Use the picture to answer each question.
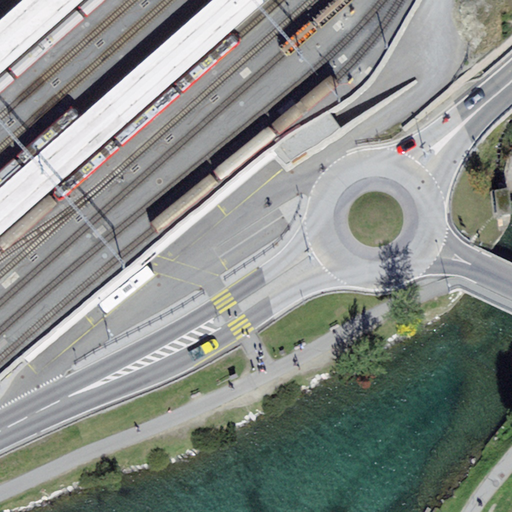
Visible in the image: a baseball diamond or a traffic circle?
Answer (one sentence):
The one in the frame is a traffic circle.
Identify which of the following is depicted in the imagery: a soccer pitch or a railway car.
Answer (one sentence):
Visible in the photo is a railway car.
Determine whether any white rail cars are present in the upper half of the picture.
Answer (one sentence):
Yes, in the upper half of the picture there is a white rail car.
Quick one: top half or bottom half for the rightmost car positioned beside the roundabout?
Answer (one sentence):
It is in the top half that the rightmost car positioned beside the roundabout appears.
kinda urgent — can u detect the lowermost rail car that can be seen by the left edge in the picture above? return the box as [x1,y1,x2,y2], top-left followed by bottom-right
[0,192,61,248]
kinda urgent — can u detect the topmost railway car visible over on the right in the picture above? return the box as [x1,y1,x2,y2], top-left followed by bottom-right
[312,0,352,28]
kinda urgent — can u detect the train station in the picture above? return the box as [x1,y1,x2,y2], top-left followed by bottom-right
[0,0,415,380]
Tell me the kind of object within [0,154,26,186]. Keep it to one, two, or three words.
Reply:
rail car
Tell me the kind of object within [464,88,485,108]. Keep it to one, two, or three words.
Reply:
car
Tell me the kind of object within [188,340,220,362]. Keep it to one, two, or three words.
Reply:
truck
